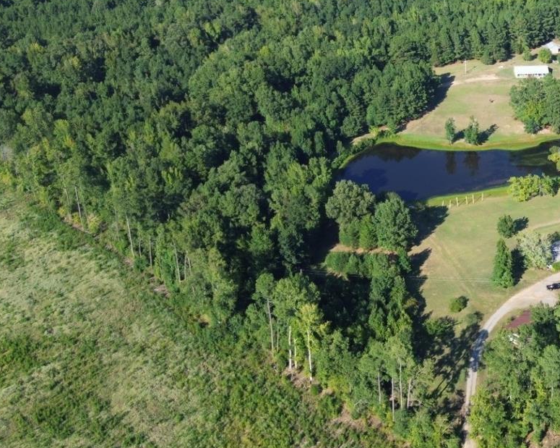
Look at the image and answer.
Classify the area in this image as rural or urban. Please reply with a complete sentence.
The area is rural.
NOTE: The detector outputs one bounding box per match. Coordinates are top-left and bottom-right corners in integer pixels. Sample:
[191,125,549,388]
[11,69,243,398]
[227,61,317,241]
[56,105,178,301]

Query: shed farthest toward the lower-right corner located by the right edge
[507,305,541,332]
